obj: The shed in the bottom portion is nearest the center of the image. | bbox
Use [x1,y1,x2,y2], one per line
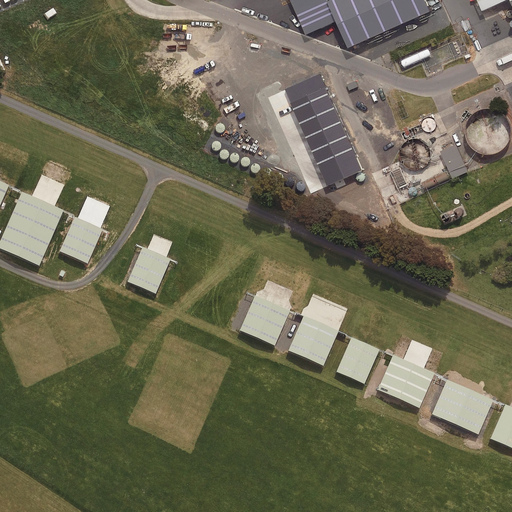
[240,296,290,345]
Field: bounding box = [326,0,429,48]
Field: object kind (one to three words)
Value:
building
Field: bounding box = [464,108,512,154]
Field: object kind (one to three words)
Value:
storage tank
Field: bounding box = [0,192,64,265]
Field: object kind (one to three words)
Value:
shed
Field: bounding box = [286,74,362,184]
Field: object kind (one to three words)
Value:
building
